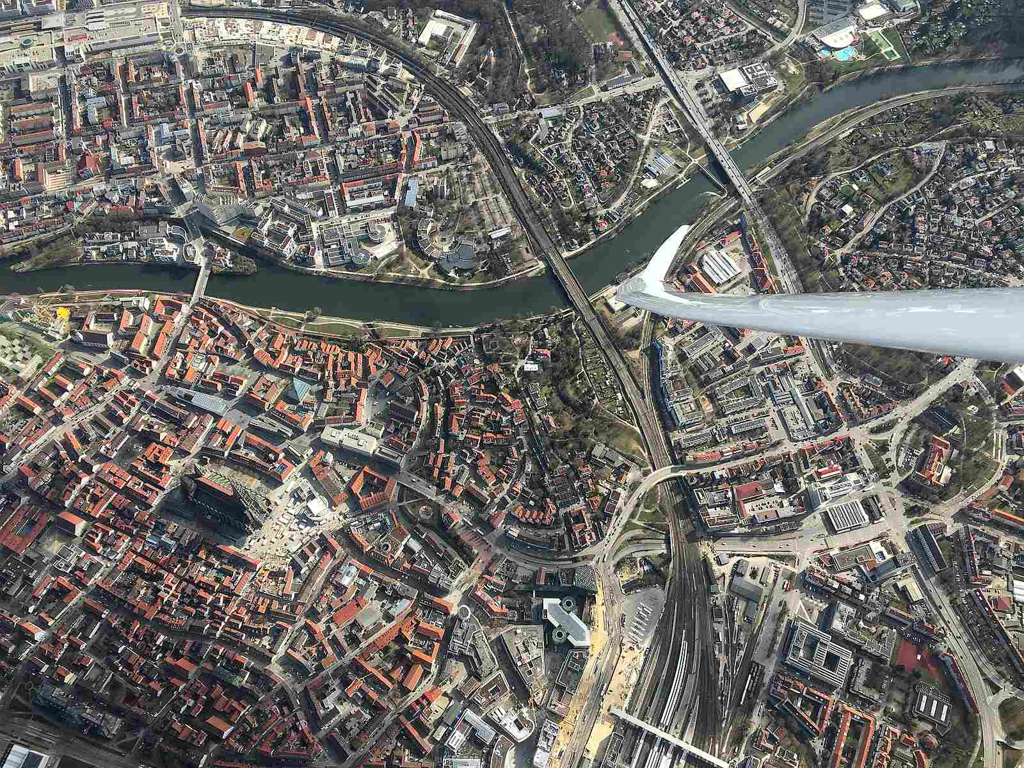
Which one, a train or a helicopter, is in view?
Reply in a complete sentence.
Visible in the photo is a train.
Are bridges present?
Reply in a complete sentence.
Yes, there's a bridge down there.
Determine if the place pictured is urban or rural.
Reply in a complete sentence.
From above, the setting appears urban.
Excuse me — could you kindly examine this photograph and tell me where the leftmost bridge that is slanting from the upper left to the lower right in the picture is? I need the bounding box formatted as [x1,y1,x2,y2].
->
[544,248,595,321]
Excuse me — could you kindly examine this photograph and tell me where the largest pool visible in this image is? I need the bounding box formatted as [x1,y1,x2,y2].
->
[832,45,859,62]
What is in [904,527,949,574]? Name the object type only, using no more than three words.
building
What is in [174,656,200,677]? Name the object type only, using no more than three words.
house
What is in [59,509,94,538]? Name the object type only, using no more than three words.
house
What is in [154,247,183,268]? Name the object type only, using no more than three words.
building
